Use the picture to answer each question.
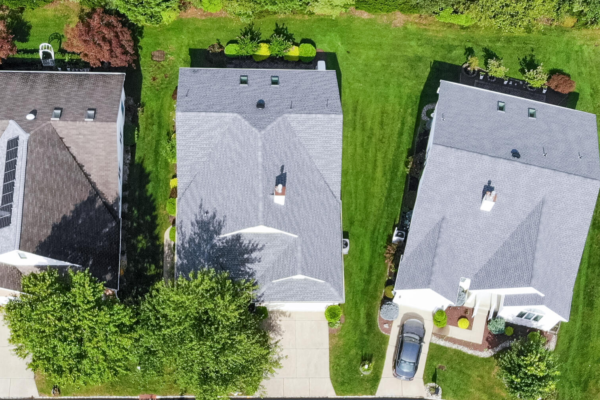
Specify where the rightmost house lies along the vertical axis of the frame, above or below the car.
above it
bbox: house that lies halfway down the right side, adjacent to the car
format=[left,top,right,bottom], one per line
[390,79,600,336]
